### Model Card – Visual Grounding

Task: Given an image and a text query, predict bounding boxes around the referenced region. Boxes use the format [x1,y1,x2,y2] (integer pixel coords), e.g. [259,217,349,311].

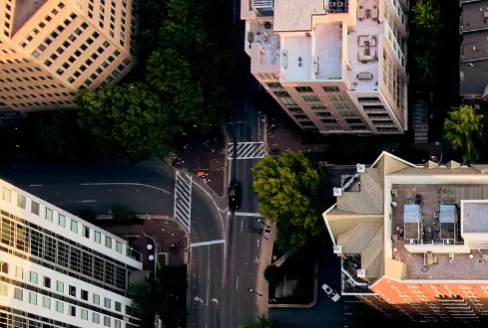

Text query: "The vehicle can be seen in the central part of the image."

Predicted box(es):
[228,182,240,208]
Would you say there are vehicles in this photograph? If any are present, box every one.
[228,182,240,208]
[321,284,342,303]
